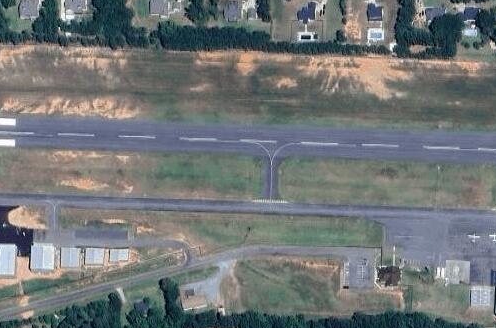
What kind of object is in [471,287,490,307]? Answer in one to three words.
hangar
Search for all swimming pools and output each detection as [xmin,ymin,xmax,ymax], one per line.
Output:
[463,28,476,36]
[368,28,383,41]
[299,32,318,41]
